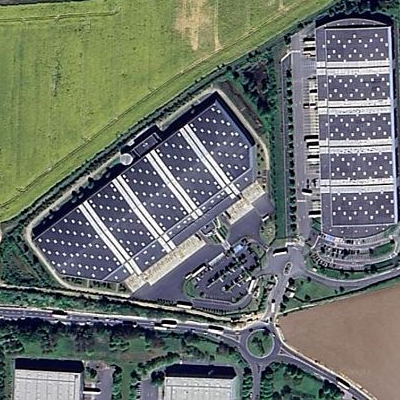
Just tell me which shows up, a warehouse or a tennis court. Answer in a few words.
warehouse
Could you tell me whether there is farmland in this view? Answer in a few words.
Yes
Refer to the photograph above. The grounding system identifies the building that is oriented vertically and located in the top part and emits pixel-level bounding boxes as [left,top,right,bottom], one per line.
[316,17,400,238]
